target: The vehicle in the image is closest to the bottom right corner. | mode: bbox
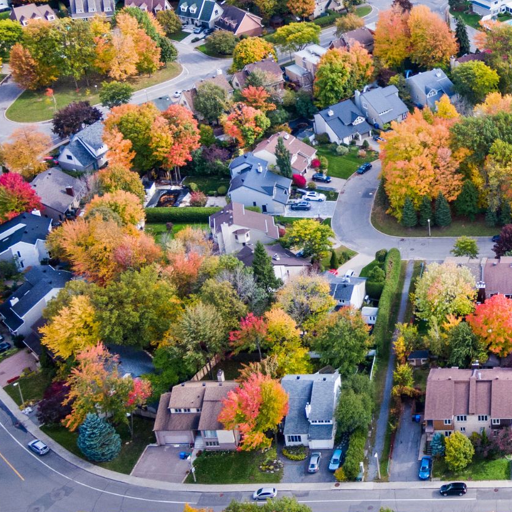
[439,478,466,493]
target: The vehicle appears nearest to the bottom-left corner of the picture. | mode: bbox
[26,435,48,453]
